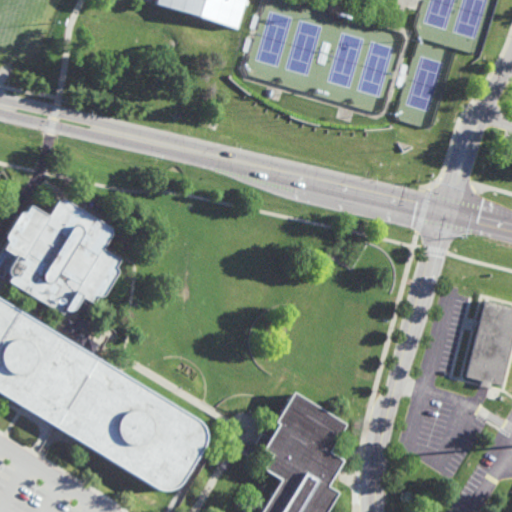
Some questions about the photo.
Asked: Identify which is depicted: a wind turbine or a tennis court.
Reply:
tennis court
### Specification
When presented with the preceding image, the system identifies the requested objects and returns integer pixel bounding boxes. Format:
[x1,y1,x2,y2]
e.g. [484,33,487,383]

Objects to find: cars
[430,412,440,418]
[19,493,28,500]
[58,503,68,511]
[431,401,442,407]
[483,460,492,467]
[256,174,266,179]
[224,152,234,157]
[33,494,43,502]
[20,486,30,494]
[486,454,496,462]
[296,182,306,188]
[30,500,40,508]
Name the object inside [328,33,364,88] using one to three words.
tennis court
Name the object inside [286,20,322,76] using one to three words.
tennis court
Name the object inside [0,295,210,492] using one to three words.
building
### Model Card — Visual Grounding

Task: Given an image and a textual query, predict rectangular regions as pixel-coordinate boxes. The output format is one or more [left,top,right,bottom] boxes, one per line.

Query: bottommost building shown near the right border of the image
[466,302,512,389]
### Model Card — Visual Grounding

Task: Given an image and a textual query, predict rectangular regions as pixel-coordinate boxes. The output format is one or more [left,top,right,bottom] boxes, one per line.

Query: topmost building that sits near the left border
[6,201,122,312]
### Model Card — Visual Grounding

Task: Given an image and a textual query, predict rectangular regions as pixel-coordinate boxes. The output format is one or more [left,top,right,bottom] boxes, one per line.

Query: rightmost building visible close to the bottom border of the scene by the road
[263,392,347,512]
